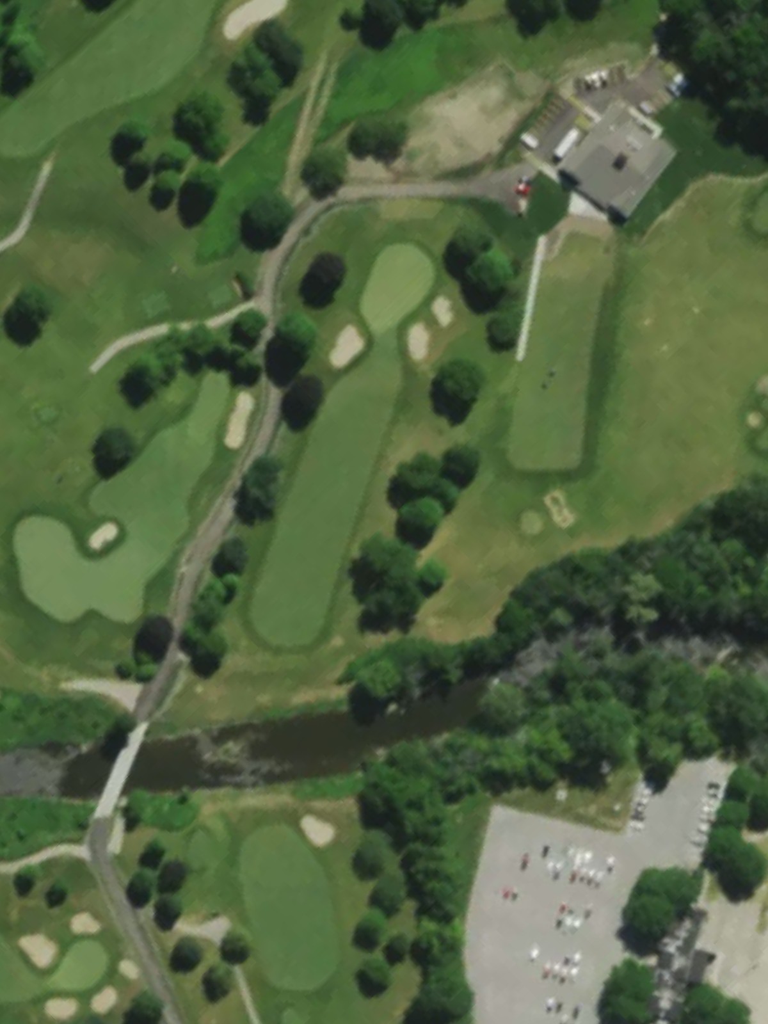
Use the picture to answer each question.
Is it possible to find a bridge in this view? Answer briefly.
Yes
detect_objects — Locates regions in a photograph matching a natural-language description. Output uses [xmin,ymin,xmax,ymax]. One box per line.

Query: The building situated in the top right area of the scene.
[558,95,677,217]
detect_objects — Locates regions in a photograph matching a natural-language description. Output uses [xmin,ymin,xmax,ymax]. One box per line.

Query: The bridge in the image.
[95,726,147,819]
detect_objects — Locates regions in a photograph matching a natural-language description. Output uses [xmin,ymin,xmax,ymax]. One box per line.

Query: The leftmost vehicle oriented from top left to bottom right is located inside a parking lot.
[522,133,537,147]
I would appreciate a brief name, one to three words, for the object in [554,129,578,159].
bus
